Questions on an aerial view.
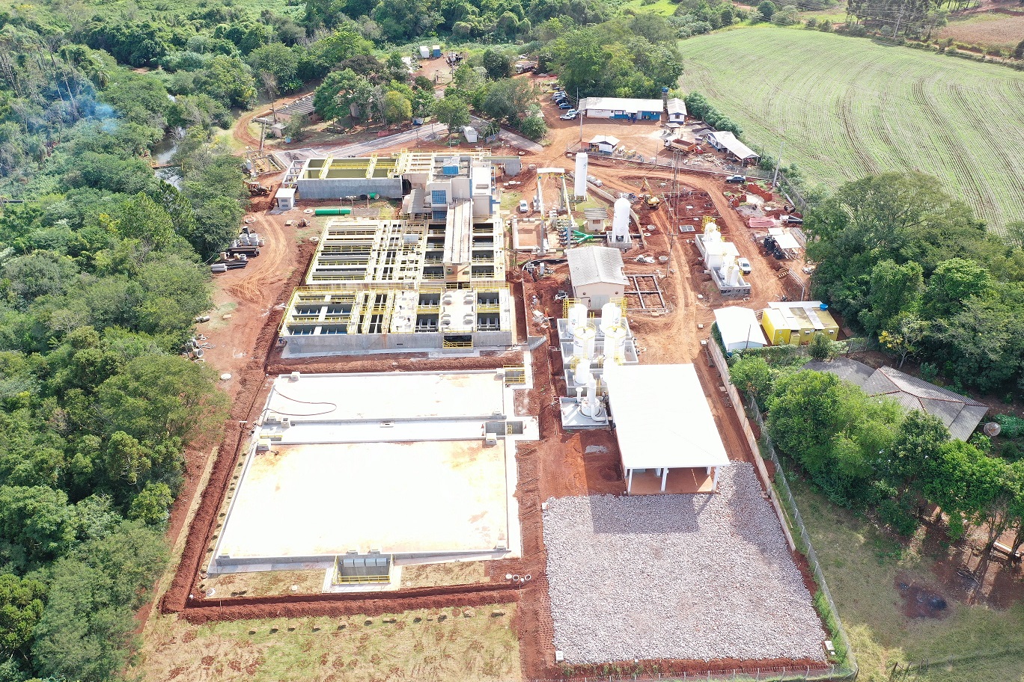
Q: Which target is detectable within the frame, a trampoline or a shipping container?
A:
shipping container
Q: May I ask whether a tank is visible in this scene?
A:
Yes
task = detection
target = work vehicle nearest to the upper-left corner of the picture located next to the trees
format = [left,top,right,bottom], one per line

[239,180,274,195]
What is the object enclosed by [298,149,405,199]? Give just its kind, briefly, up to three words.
storage tank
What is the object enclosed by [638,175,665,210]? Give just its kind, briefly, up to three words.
work vehicle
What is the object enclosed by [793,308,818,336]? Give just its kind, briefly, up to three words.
shipping container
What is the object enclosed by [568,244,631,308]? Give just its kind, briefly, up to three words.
building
